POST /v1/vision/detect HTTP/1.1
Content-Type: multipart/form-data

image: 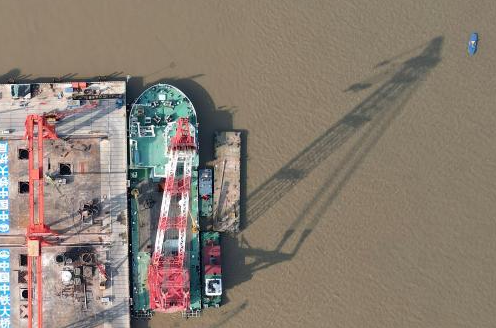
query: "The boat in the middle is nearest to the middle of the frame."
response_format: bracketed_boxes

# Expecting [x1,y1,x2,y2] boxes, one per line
[198,166,216,217]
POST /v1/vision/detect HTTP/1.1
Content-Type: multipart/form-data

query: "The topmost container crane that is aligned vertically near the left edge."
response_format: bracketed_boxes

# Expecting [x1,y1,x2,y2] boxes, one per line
[22,115,60,237]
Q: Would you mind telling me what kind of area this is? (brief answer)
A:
port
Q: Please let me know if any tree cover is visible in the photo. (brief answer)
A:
No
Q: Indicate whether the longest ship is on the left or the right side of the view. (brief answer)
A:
left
